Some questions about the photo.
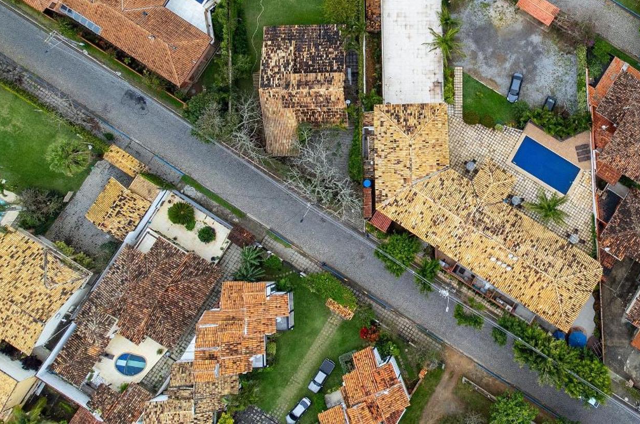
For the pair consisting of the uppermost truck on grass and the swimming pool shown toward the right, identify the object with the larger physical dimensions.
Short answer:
the swimming pool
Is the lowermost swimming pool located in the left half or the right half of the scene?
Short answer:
left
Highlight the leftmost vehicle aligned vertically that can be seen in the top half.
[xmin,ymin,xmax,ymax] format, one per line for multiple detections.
[508,73,523,103]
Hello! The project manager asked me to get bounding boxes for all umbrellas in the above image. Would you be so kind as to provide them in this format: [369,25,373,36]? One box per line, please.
[553,328,567,340]
[568,329,586,347]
